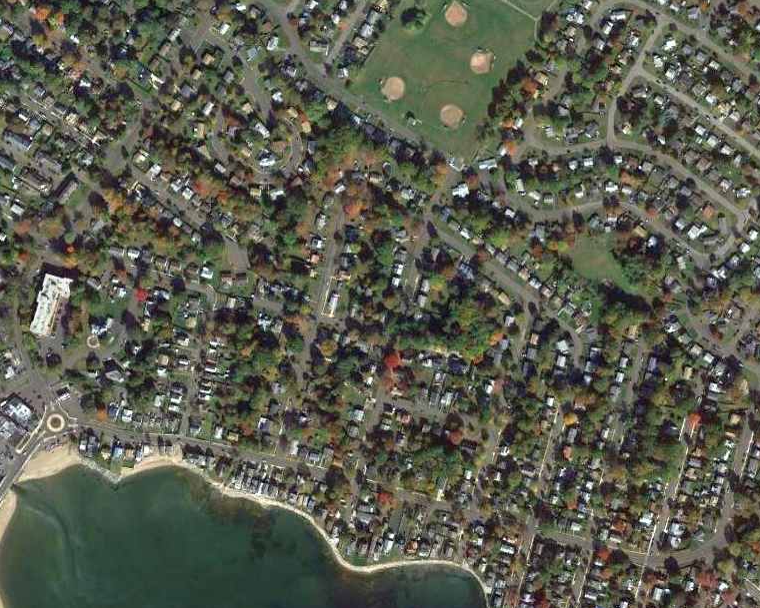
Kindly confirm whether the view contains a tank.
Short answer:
No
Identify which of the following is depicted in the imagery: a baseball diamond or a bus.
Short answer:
baseball diamond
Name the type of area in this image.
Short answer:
residential area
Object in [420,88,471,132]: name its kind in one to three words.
baseball field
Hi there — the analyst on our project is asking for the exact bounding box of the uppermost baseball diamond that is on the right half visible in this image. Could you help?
[429,0,485,38]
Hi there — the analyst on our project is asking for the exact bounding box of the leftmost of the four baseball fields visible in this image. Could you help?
[378,57,421,110]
